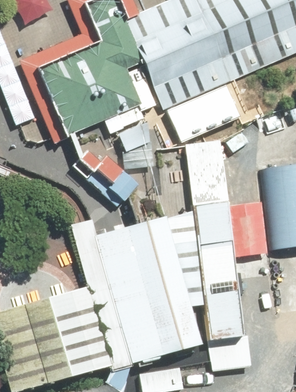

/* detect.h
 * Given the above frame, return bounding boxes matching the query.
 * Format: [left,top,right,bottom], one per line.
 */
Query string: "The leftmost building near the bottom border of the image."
[0,298,71,392]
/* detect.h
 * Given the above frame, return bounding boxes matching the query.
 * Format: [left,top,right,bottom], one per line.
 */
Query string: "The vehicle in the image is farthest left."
[184,373,216,386]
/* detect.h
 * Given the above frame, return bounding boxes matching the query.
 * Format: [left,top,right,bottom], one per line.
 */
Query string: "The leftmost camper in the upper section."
[228,136,250,152]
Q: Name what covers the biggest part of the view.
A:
buildings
